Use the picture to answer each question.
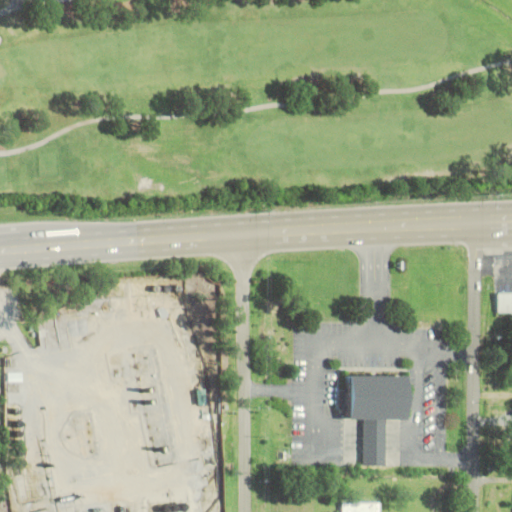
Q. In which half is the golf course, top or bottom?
top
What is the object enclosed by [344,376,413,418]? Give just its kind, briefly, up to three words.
building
